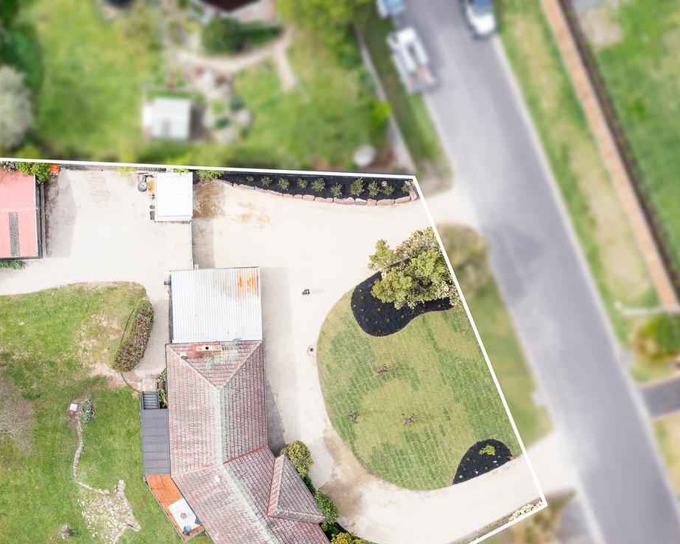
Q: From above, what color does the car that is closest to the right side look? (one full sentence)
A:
In this view, the car that is closest to the right side is white.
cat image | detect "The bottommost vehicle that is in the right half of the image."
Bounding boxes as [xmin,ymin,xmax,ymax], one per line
[391,27,439,94]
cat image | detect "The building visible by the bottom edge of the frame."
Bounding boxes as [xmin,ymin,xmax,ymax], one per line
[165,340,326,544]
